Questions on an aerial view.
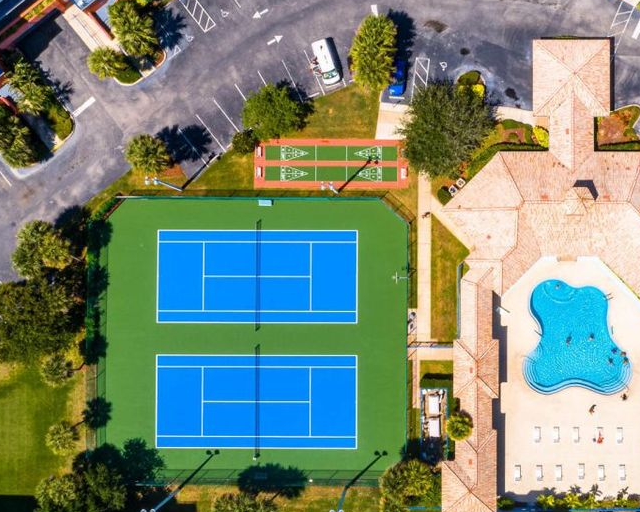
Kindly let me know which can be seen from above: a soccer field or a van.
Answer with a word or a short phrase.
van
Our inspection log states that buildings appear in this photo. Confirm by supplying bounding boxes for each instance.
[441,39,640,512]
[0,0,111,89]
